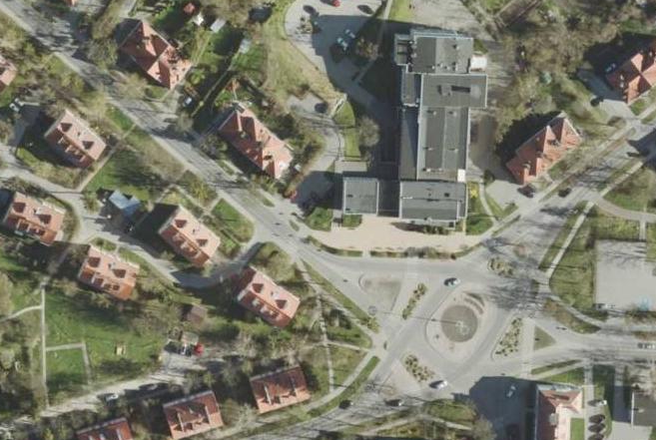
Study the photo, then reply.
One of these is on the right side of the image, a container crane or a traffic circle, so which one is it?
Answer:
traffic circle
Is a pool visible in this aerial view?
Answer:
No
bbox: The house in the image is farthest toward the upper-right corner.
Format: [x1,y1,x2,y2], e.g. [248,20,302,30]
[605,34,656,104]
